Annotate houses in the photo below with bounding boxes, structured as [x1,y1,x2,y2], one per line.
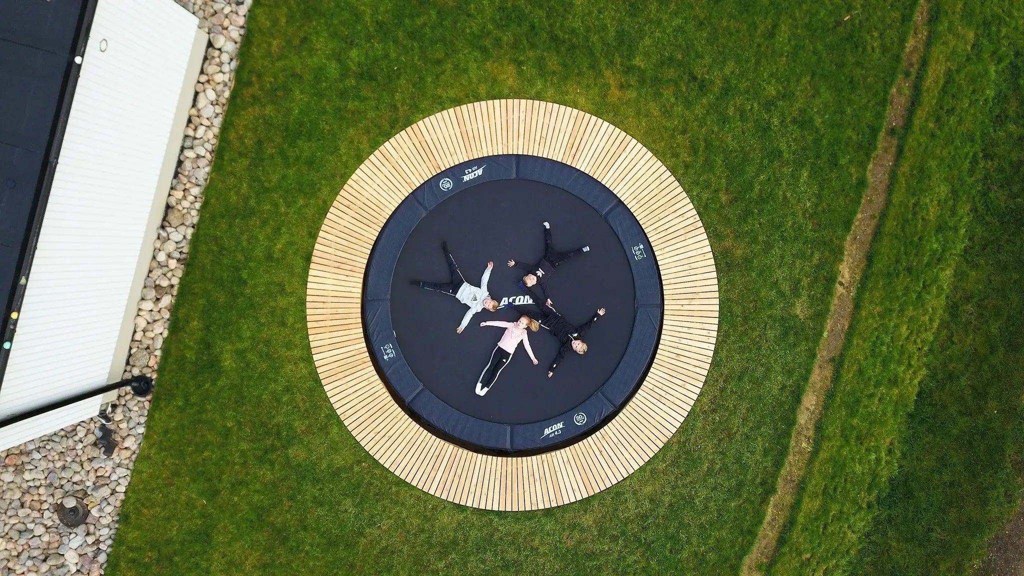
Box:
[0,0,207,450]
